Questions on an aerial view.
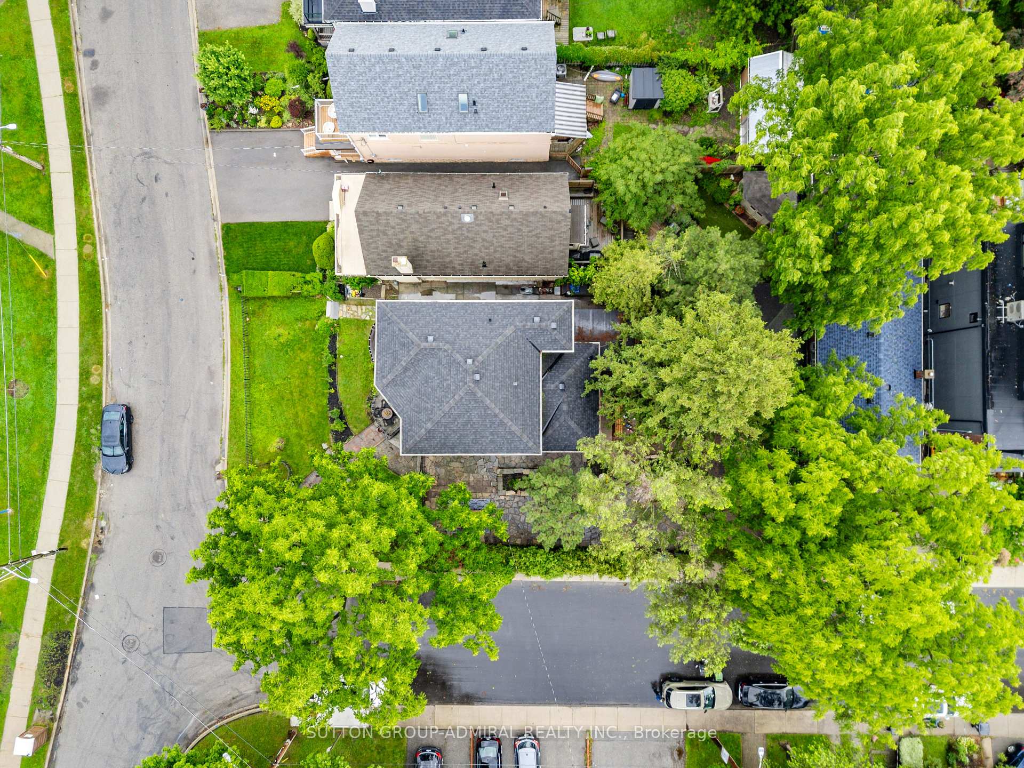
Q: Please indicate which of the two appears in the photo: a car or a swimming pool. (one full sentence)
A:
The image shows a car.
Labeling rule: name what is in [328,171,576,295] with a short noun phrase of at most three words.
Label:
house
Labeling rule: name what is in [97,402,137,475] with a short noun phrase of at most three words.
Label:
car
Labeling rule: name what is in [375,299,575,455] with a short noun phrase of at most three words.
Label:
house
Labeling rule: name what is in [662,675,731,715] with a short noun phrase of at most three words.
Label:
car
